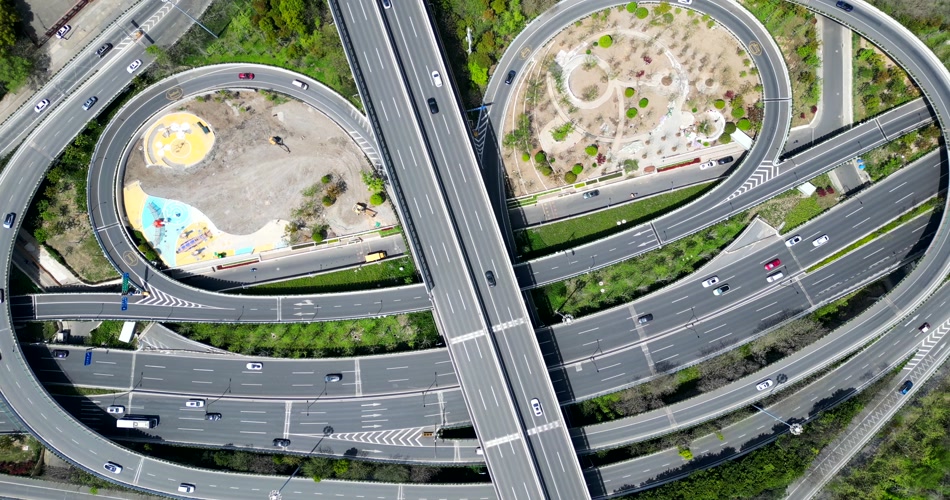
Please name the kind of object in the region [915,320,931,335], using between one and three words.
car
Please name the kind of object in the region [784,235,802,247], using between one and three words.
vehicle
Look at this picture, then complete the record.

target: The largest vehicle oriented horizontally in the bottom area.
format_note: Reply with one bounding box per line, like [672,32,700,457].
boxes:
[115,416,162,429]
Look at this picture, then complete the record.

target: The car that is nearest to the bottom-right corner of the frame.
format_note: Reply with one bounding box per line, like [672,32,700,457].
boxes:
[898,380,912,394]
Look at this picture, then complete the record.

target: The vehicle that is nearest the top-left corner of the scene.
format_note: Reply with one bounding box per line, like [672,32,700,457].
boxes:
[57,24,71,39]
